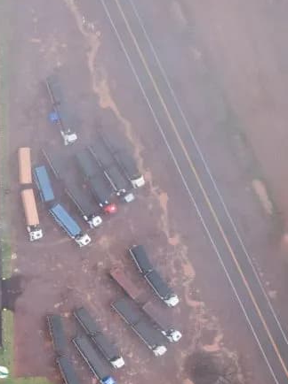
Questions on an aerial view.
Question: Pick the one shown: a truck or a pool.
truck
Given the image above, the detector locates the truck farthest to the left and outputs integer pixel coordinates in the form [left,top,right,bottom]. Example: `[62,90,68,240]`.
[16,147,42,241]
